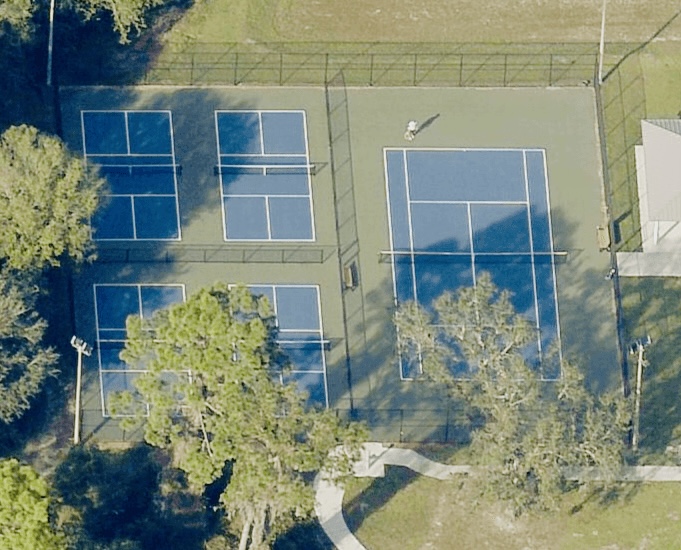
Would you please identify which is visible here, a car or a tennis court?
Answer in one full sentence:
Of the two, only a tennis court appears.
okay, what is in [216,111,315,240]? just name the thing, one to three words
sports court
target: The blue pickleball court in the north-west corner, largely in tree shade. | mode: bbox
[82,110,180,239]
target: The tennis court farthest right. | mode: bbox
[384,149,564,379]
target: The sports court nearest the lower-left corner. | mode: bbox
[94,285,194,416]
